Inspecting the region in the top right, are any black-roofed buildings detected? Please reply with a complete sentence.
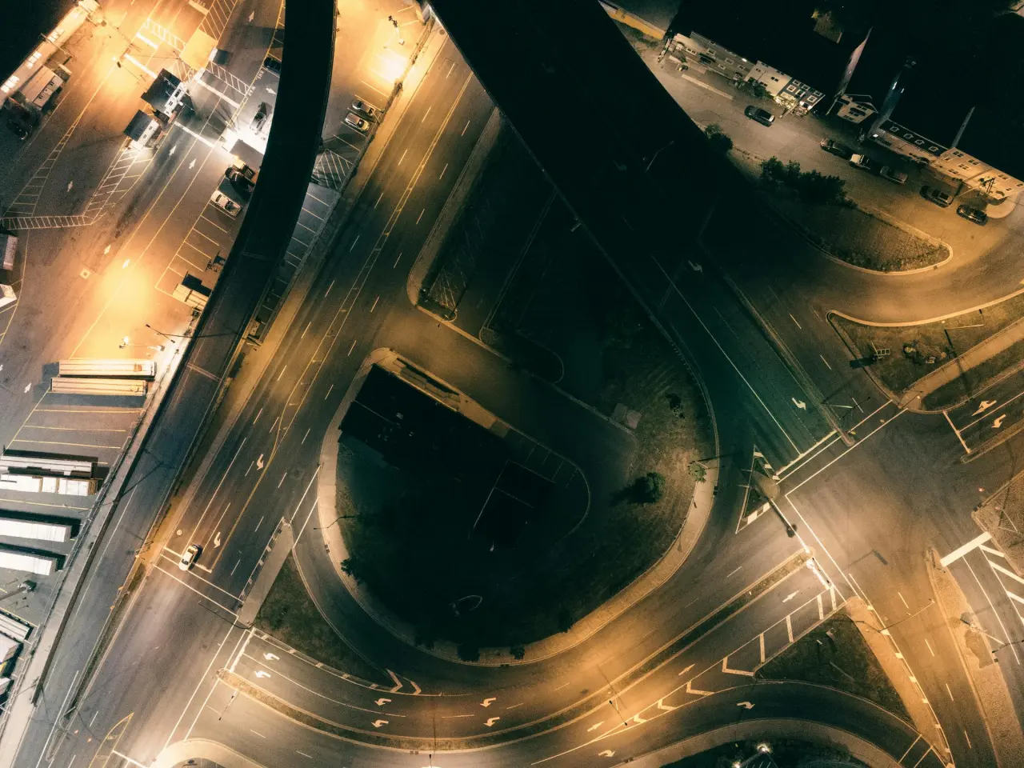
Yes, a black-roofed building can be seen in the top right.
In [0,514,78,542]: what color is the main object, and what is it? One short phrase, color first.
white trailer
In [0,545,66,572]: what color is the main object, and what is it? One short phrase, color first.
white trailer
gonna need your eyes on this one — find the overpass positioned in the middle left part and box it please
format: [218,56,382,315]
[24,0,341,705]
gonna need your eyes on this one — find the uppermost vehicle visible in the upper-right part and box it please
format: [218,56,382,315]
[744,106,774,127]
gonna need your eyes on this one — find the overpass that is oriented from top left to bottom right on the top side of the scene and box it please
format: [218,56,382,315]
[428,0,763,303]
